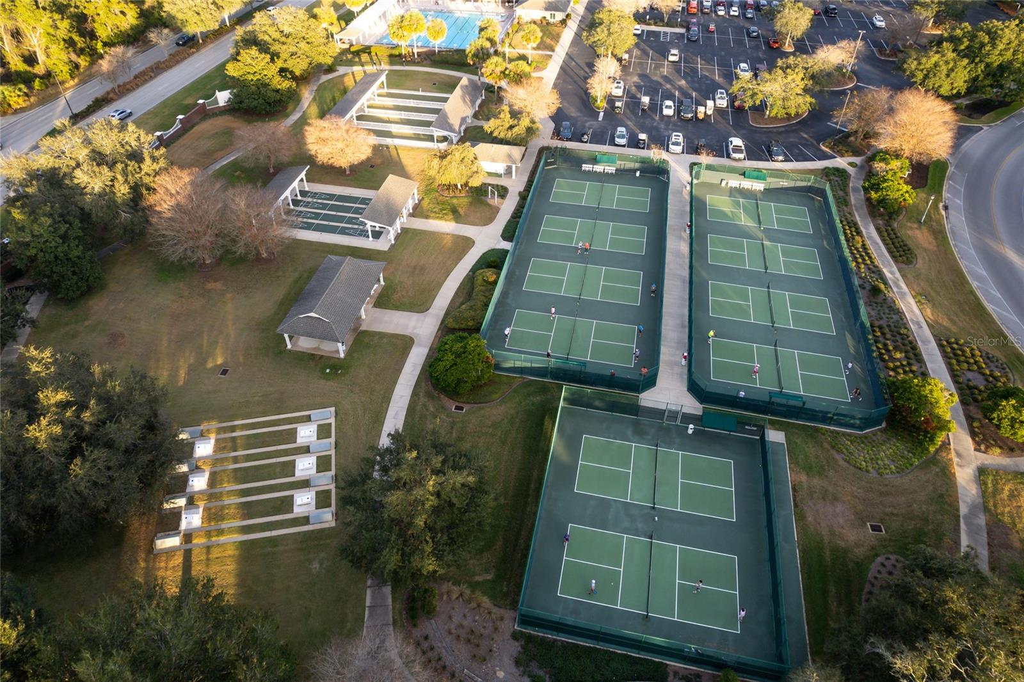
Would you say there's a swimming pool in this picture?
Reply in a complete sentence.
Yes, looking at the shot, I can spot a swimming pool.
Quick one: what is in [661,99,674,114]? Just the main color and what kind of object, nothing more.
white vehicle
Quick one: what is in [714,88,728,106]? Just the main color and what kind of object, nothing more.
white car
